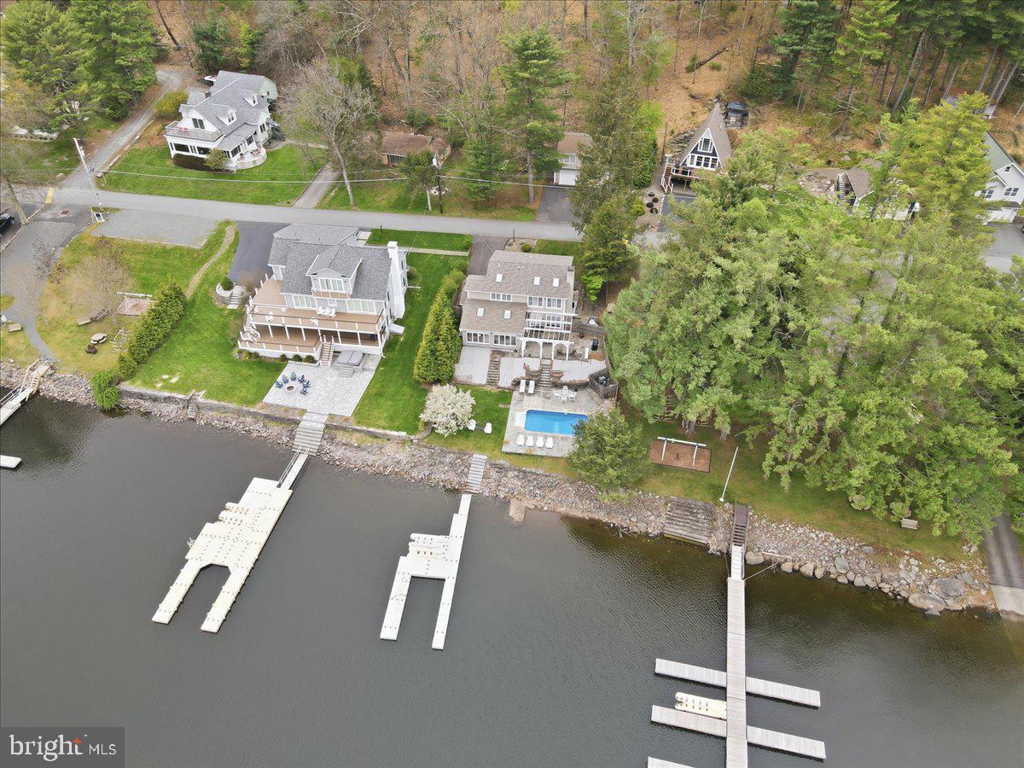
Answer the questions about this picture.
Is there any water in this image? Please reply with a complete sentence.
Yes, water shows up in the scene.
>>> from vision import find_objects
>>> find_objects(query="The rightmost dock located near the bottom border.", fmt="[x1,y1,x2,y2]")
[647,578,825,768]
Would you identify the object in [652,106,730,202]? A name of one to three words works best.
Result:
building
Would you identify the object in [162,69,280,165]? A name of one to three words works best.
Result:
house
